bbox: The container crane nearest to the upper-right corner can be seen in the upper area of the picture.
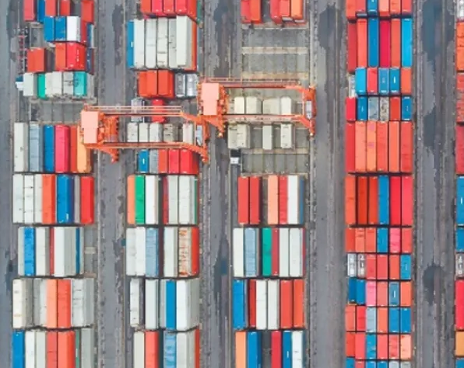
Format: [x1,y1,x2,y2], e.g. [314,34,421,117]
[196,78,317,137]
